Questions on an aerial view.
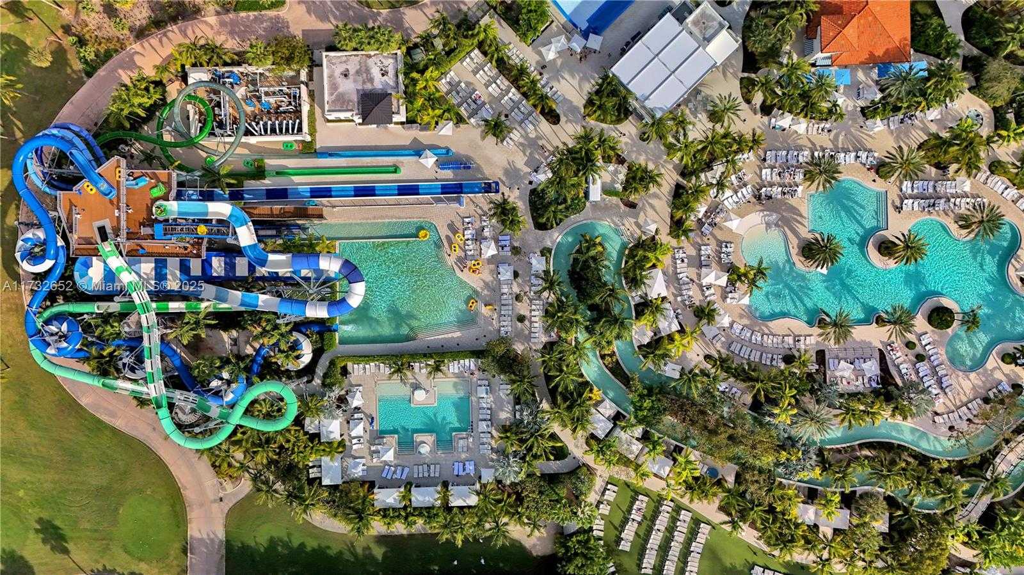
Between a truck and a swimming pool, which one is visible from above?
swimming pool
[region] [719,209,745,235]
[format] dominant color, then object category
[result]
white umbrella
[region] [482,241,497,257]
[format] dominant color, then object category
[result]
white umbrella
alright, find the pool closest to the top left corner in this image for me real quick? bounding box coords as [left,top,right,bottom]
[304,221,480,344]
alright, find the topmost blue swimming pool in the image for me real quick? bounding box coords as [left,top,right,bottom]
[553,0,636,40]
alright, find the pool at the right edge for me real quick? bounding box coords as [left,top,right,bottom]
[741,178,1024,371]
